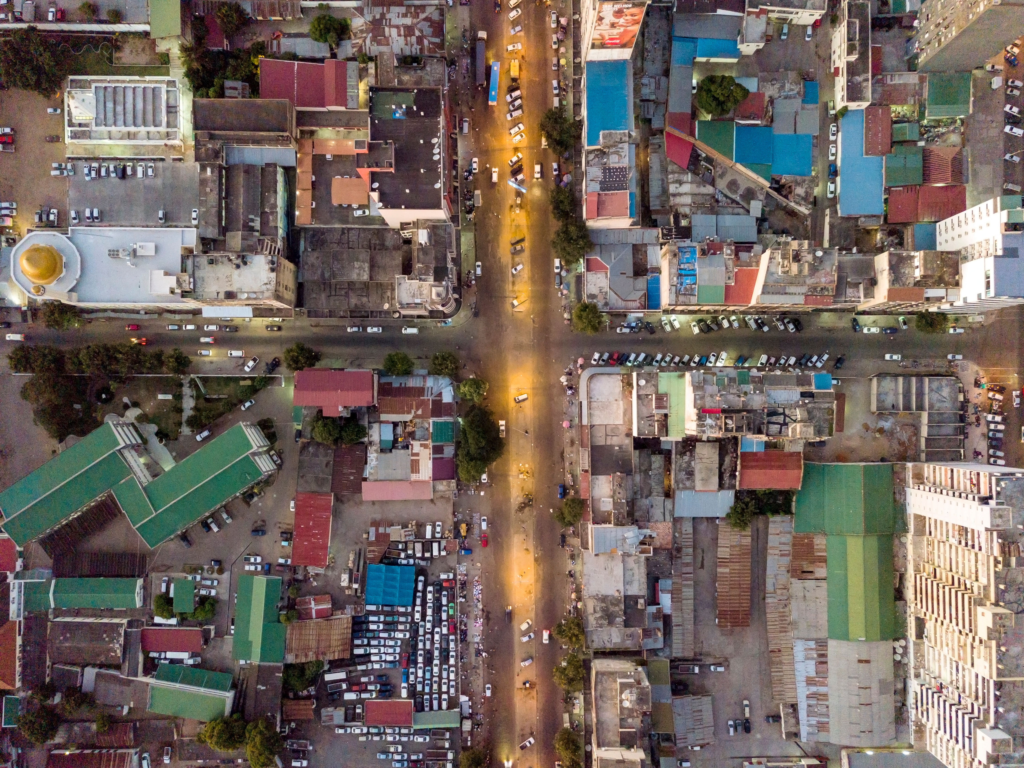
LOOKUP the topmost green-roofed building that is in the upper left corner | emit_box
[148,0,188,45]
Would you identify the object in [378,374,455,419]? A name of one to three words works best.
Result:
house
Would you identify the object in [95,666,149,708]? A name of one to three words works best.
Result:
building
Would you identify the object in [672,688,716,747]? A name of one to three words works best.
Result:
building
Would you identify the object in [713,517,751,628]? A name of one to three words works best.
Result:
shed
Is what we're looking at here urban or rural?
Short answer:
urban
